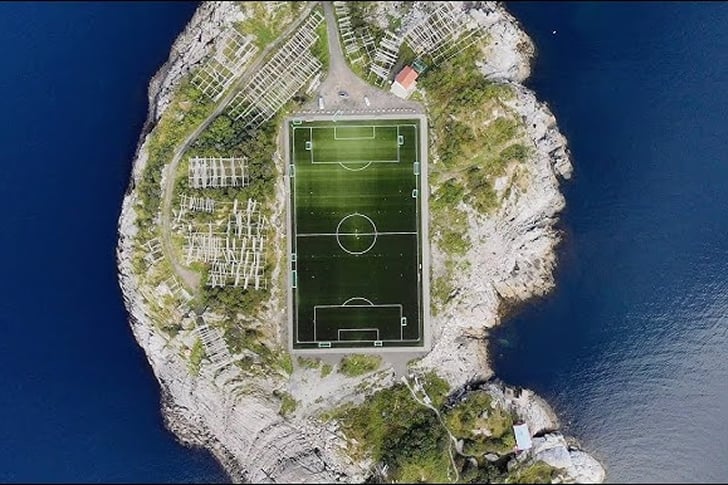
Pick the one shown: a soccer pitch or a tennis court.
soccer pitch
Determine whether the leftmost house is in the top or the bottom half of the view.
top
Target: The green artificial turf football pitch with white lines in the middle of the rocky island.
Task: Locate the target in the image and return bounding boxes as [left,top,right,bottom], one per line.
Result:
[284,114,431,353]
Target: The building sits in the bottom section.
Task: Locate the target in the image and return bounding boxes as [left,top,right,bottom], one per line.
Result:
[513,421,531,450]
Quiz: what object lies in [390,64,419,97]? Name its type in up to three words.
house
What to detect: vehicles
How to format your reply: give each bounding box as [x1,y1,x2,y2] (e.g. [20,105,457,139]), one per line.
[318,96,324,109]
[338,91,348,97]
[363,96,370,106]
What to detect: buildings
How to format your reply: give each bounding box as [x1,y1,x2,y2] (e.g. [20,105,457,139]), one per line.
[390,64,419,97]
[513,421,531,450]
